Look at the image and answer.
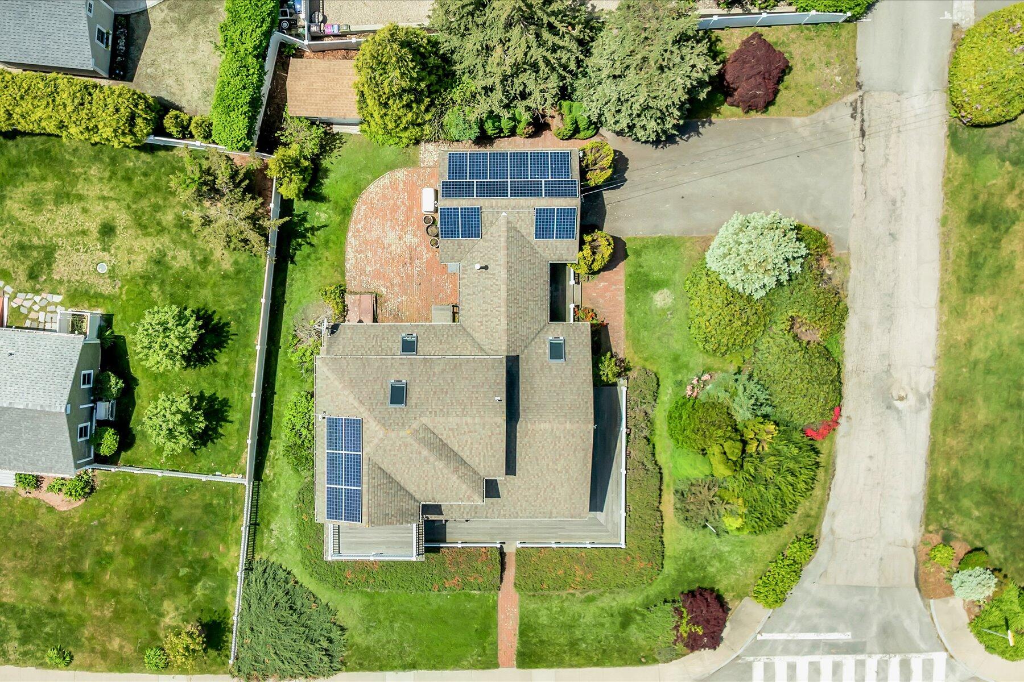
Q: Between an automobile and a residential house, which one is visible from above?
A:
residential house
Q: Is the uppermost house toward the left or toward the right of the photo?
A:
left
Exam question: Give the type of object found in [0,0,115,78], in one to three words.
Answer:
house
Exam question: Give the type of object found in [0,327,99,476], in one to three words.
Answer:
house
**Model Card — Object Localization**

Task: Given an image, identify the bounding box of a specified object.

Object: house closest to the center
[314,147,627,561]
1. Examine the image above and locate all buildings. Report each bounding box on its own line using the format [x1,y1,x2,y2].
[0,327,99,476]
[0,0,115,78]
[314,147,627,561]
[287,58,363,134]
